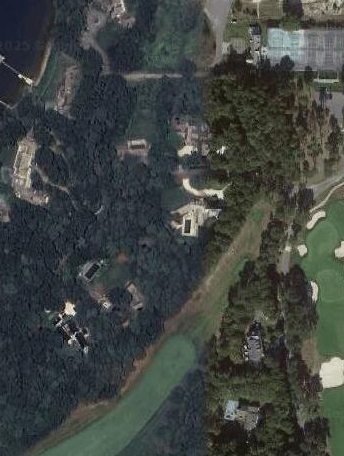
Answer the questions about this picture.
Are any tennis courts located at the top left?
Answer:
No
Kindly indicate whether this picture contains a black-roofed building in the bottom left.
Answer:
Yes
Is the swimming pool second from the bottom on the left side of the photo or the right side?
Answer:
left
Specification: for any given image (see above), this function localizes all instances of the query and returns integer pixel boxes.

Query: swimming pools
[182,210,197,236]
[81,260,104,283]
[224,401,237,420]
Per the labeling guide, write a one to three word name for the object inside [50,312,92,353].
house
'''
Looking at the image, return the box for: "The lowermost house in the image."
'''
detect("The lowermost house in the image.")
[235,405,258,428]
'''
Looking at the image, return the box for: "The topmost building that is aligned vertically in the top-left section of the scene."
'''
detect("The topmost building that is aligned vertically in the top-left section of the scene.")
[57,66,77,111]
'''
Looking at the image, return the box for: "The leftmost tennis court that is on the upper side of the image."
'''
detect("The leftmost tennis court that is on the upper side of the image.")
[267,28,285,70]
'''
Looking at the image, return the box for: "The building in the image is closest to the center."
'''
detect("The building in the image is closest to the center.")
[193,199,221,217]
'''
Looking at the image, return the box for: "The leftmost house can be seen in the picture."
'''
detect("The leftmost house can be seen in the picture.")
[13,134,35,193]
